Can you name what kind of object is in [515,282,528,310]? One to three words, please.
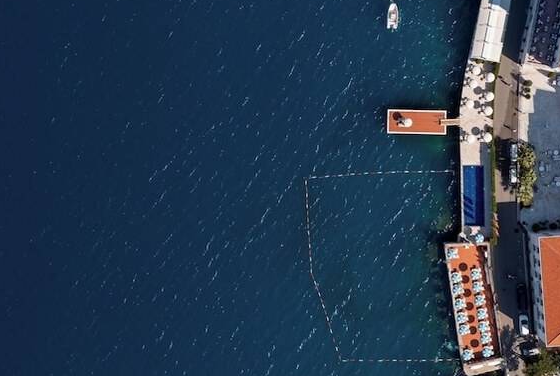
vehicle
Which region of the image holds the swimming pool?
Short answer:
right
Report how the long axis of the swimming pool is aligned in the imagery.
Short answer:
up and down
